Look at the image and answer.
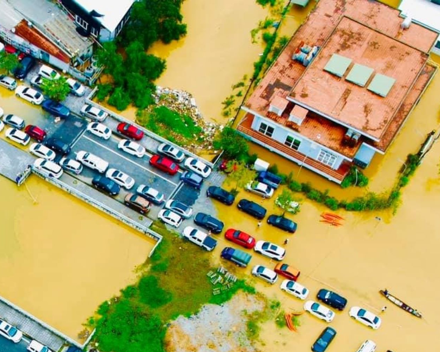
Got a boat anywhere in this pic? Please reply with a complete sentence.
Yes, this view includes a boat.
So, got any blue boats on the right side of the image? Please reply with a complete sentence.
No, no blue boat is visible on the right side of the image.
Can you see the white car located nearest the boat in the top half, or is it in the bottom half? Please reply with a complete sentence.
The white car located nearest the boat is in the bottom half of the image.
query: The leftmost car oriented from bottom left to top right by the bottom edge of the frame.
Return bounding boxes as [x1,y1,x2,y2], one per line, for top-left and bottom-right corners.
[312,324,338,352]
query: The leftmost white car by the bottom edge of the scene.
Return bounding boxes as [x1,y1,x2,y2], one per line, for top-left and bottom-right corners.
[0,318,24,345]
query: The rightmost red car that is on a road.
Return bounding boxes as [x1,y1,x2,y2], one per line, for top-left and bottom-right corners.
[149,157,181,176]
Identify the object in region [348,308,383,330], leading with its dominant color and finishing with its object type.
white car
